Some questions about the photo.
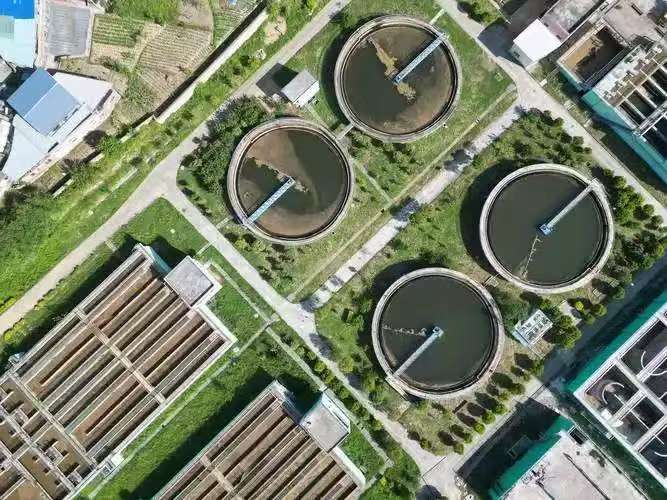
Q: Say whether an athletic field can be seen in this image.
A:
No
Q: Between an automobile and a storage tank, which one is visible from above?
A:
storage tank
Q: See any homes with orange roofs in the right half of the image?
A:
No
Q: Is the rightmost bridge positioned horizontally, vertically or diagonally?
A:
diagonally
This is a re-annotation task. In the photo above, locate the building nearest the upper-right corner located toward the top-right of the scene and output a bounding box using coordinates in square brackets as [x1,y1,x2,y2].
[539,0,595,42]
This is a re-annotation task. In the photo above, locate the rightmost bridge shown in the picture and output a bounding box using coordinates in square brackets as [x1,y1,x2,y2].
[541,180,599,236]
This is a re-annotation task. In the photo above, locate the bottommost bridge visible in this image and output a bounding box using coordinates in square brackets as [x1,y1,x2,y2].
[388,327,447,383]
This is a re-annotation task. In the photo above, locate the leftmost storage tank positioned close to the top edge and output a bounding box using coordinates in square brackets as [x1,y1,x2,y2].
[334,16,462,146]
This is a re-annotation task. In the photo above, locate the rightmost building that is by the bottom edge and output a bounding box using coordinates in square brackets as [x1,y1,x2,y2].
[475,417,647,500]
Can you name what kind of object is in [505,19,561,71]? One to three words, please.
building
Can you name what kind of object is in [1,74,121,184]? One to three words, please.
house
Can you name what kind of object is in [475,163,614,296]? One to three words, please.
storage tank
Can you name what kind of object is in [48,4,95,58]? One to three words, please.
shed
